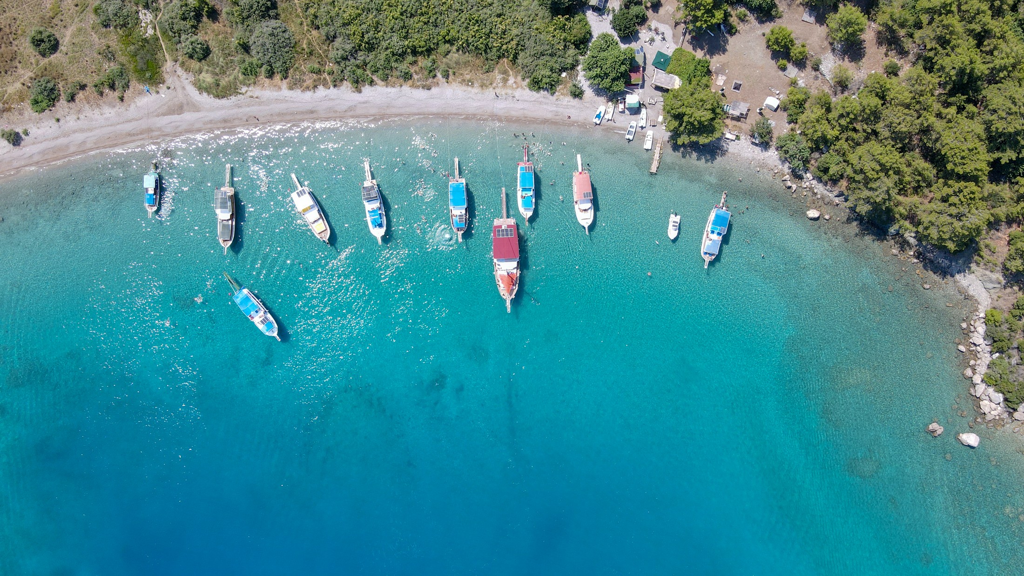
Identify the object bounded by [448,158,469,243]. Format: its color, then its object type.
blue boat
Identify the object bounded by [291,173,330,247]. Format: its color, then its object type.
white boat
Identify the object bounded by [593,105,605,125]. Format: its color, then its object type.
white boat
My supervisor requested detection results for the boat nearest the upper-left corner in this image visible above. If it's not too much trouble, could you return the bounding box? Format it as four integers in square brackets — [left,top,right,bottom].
[143,163,162,218]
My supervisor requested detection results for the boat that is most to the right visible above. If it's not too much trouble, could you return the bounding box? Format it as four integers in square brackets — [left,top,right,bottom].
[702,191,731,268]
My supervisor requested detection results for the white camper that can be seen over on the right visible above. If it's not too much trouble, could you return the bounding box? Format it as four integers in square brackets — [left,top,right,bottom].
[762,96,779,111]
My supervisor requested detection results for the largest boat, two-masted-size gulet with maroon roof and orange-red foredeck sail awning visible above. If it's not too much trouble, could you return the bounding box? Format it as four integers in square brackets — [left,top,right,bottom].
[492,187,521,312]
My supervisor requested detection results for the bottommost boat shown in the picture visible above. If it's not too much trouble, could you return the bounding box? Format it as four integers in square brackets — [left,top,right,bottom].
[224,271,281,341]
